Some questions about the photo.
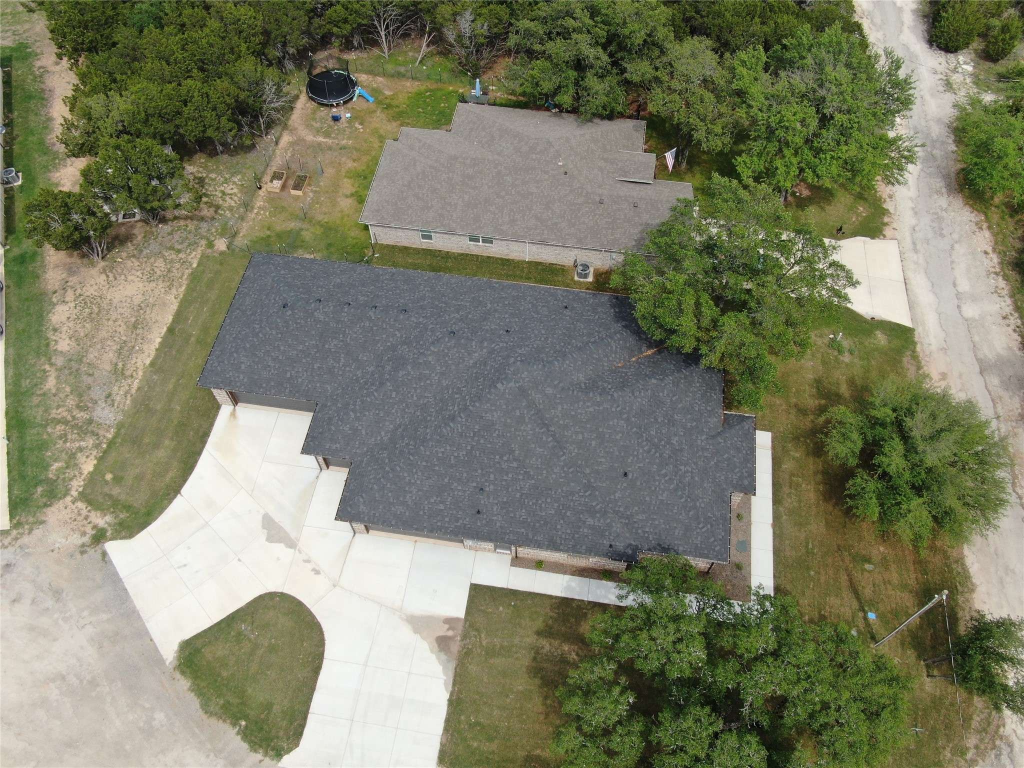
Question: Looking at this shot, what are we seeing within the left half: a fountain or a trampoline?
trampoline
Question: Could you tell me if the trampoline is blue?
No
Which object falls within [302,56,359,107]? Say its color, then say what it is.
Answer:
black trampoline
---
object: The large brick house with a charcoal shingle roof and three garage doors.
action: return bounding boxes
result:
[198,252,757,577]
